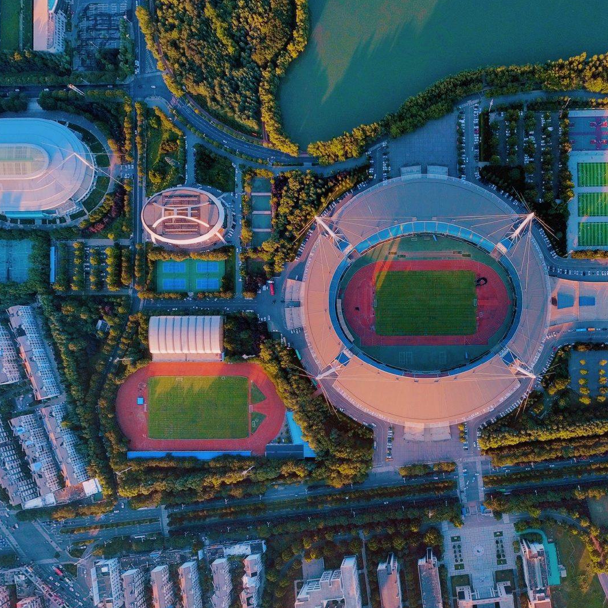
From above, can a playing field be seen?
Yes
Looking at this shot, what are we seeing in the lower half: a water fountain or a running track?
running track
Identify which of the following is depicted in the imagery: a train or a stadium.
stadium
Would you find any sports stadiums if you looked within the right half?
Yes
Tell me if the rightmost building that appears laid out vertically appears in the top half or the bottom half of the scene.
bottom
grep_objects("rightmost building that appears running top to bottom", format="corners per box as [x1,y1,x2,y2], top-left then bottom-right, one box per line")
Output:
[523,537,550,601]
